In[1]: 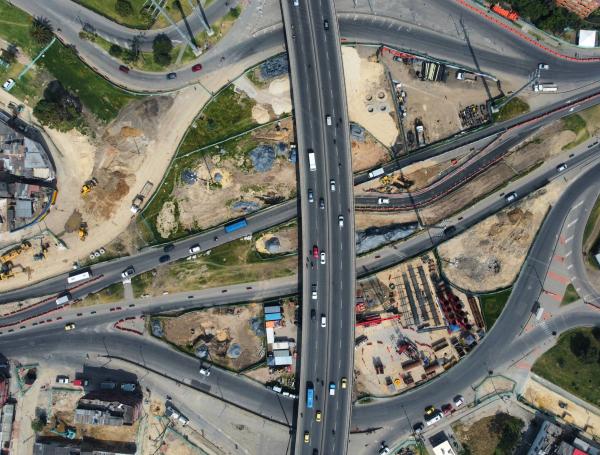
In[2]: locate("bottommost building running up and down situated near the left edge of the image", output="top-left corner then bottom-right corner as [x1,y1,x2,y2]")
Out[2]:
[1,401,18,449]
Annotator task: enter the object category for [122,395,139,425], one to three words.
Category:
house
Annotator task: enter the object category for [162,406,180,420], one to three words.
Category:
vehicle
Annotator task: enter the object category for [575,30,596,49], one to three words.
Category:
building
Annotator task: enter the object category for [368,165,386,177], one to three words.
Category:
vehicle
